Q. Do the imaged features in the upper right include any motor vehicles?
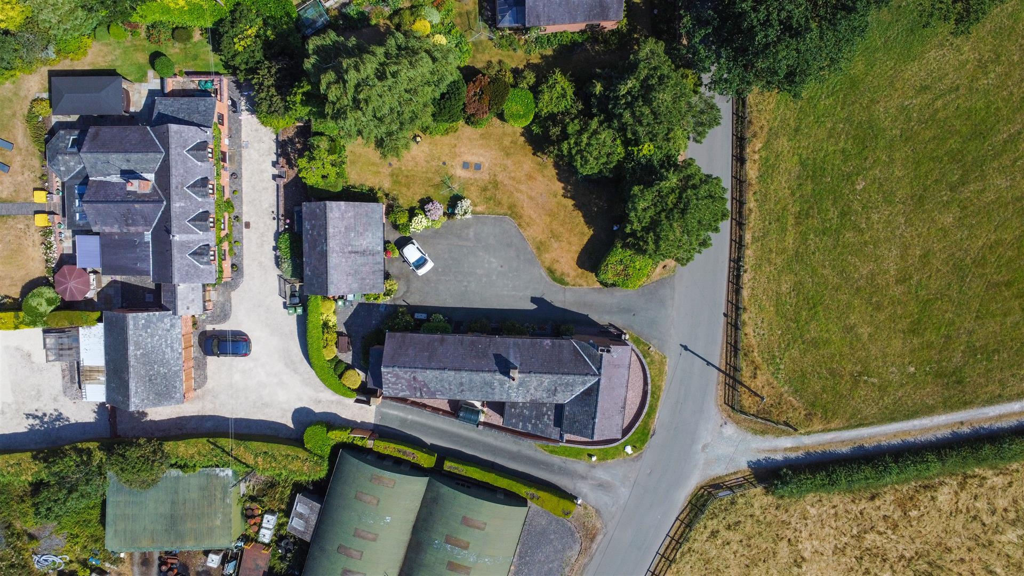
No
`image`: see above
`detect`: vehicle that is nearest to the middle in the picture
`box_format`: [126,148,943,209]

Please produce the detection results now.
[402,239,434,277]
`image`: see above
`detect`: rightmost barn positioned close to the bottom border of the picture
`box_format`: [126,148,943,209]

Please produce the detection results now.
[398,471,529,576]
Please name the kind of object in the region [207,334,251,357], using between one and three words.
car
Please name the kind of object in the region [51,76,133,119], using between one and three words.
building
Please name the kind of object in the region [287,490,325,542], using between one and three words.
shed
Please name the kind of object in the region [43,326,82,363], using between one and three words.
greenhouse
